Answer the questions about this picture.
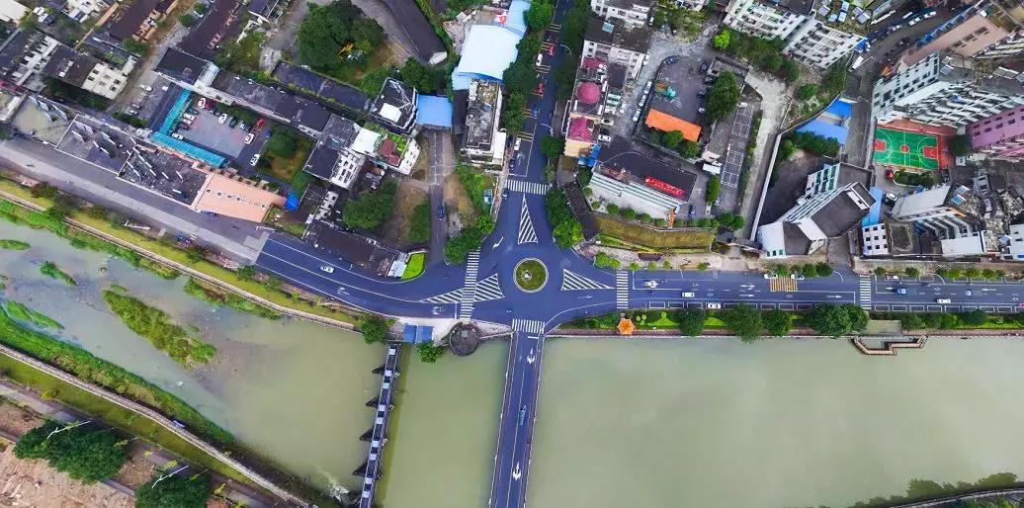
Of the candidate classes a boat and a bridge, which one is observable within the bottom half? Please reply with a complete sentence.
Visible within the bottom half is a bridge.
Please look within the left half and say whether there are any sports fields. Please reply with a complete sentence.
No, no sports field can be made out within the left half.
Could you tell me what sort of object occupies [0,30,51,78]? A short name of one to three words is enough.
house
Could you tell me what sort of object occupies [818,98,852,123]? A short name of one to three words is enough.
shed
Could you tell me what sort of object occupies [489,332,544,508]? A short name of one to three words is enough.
bridge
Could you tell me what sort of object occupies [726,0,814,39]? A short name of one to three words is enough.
building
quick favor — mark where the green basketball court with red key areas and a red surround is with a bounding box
[873,123,957,170]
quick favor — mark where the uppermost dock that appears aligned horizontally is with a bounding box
[852,335,931,357]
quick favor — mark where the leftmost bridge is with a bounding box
[362,344,402,508]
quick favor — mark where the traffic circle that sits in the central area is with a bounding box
[514,258,548,292]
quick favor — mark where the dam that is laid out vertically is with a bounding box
[350,337,413,508]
